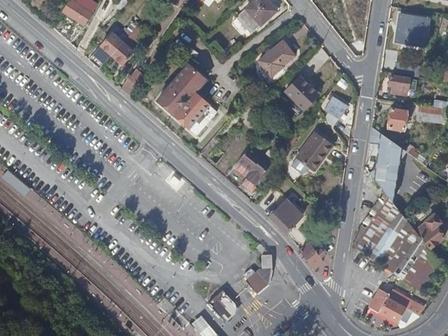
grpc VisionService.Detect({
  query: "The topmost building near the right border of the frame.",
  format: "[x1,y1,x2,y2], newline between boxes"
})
[394,12,431,50]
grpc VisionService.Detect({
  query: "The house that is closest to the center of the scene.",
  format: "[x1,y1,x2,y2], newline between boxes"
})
[235,154,266,193]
